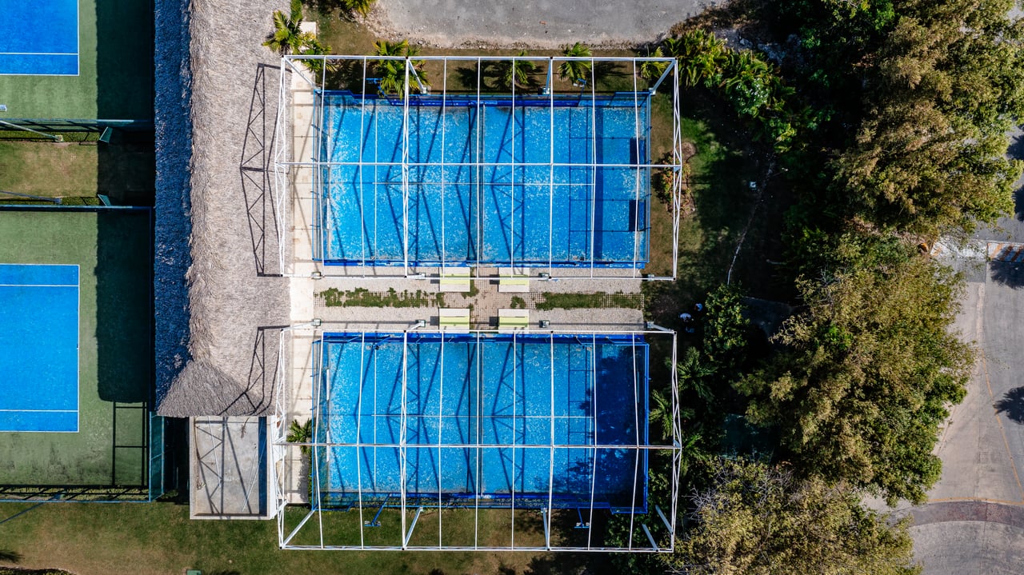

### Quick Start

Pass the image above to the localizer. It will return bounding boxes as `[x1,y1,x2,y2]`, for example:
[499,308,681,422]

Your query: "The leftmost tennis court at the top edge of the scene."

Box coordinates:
[0,0,155,131]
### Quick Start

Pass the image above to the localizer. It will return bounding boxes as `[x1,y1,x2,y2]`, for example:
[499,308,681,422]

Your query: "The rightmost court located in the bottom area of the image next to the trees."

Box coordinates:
[307,333,655,512]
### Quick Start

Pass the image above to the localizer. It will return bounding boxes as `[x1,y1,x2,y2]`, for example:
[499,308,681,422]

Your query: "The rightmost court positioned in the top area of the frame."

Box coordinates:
[307,90,655,267]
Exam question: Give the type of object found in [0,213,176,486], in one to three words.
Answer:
tennis court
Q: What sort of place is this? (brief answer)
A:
sports ground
